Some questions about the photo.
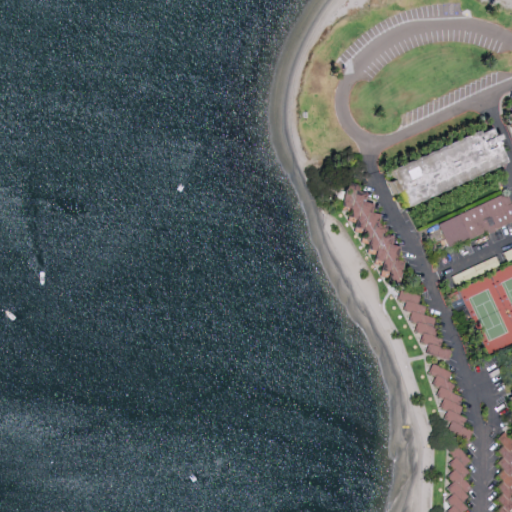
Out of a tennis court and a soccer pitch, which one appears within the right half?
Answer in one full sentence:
Looking within the right half, you will find a tennis court.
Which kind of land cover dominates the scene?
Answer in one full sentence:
The bulk of the photo consists of water.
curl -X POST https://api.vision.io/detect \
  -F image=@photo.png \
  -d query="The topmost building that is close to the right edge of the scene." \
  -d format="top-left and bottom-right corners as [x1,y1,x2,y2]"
[390,128,510,206]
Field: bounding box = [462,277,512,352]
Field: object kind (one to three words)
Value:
tennis court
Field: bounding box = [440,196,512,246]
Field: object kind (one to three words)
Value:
building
